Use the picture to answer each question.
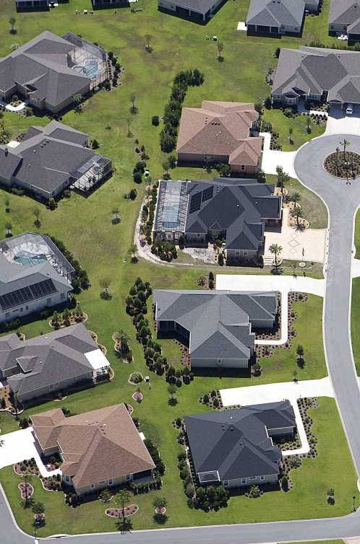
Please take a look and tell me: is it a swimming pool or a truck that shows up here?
swimming pool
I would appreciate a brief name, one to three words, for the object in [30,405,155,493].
house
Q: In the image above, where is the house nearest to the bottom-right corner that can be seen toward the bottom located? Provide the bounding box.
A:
[182,403,300,491]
